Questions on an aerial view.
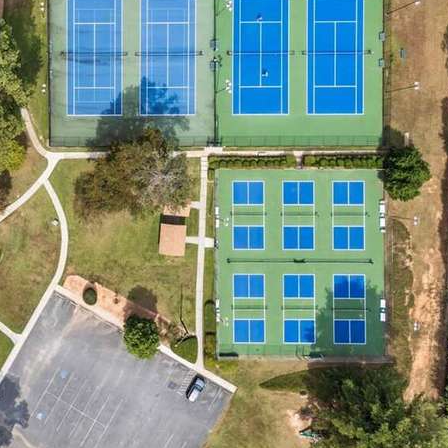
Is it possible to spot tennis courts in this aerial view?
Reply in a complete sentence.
Yes, there is a tennis court in the image.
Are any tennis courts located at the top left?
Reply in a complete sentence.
Yes, a tennis court shows up at the top left.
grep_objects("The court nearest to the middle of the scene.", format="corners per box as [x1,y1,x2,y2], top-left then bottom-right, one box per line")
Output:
[216,170,274,262]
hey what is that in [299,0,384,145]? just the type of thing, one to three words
tennis court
